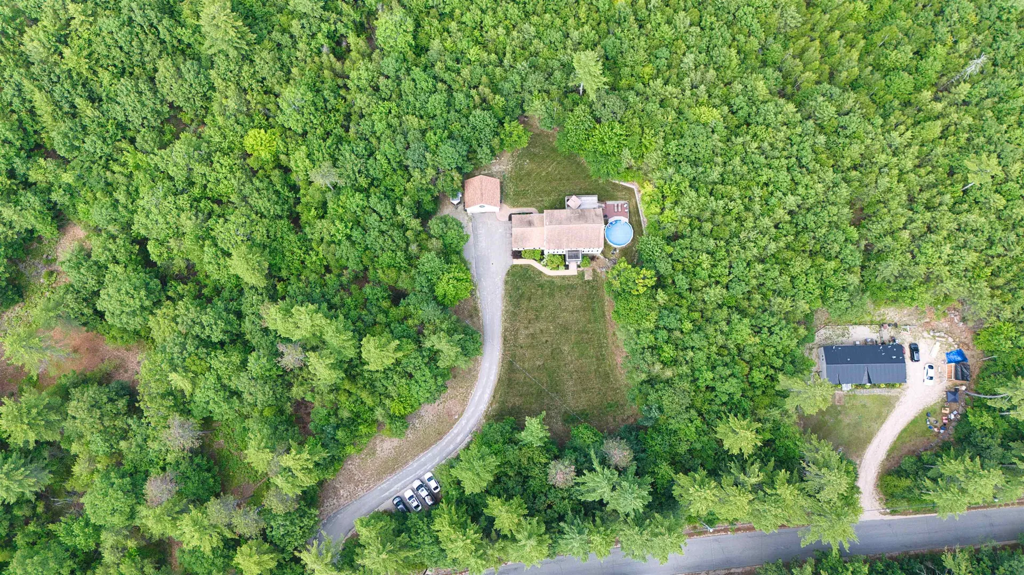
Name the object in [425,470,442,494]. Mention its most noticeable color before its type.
white car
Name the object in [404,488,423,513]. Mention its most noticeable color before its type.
white car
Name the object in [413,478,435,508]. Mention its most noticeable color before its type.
white truck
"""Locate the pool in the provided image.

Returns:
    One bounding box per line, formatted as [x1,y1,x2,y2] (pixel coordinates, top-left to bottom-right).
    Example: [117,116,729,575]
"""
[605,219,633,248]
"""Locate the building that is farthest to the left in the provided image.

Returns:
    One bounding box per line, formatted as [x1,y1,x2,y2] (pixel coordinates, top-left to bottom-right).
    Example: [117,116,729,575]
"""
[465,175,500,211]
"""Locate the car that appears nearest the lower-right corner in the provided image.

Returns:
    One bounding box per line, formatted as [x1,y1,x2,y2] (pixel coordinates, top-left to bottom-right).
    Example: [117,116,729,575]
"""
[923,363,936,386]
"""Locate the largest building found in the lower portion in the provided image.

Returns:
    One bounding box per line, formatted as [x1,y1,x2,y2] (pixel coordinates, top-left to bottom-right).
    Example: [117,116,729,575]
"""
[819,345,909,391]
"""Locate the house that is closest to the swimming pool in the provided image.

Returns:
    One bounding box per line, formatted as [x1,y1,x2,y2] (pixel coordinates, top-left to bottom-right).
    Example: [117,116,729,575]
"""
[512,208,605,267]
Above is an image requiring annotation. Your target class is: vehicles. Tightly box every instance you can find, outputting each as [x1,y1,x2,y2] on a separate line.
[923,363,936,386]
[392,494,411,518]
[907,339,922,366]
[425,470,442,494]
[413,478,435,508]
[404,488,423,513]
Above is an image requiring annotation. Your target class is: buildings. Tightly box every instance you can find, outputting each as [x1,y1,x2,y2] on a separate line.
[465,175,500,211]
[819,345,909,391]
[943,362,974,388]
[512,208,605,267]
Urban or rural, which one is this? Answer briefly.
rural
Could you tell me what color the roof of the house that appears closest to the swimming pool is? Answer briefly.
white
